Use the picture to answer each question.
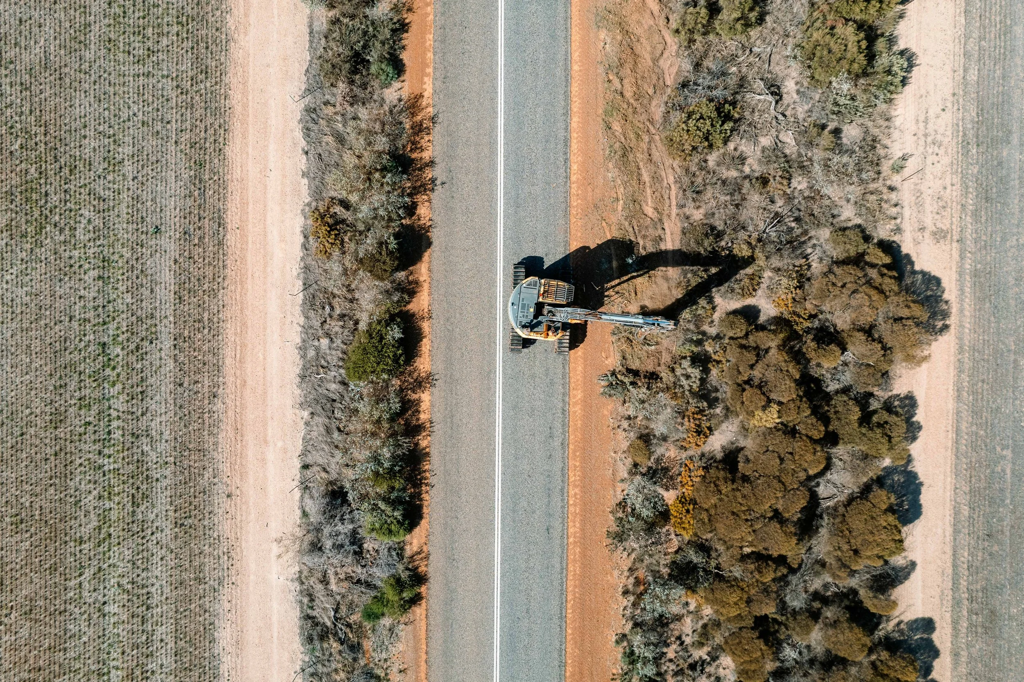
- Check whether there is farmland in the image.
Yes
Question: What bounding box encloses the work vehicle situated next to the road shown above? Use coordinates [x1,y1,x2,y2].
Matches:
[508,265,680,354]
